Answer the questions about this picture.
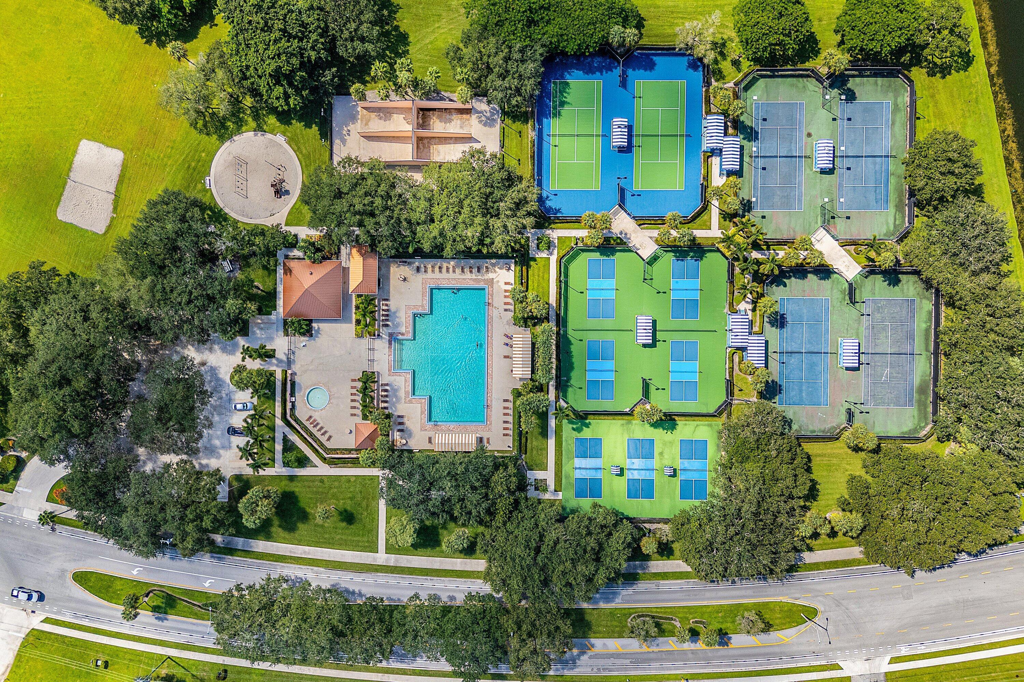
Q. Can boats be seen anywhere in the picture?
No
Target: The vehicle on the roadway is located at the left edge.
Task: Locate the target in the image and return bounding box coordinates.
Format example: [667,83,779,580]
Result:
[9,588,39,602]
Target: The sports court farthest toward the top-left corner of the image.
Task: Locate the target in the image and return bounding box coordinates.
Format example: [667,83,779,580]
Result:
[57,139,124,234]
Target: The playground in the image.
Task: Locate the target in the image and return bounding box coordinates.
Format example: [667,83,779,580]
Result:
[210,131,302,223]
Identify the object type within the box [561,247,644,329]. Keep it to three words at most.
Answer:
sports court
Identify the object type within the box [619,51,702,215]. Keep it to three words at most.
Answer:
tennis court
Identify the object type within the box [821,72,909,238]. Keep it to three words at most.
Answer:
tennis court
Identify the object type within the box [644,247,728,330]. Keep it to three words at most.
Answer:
sports court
